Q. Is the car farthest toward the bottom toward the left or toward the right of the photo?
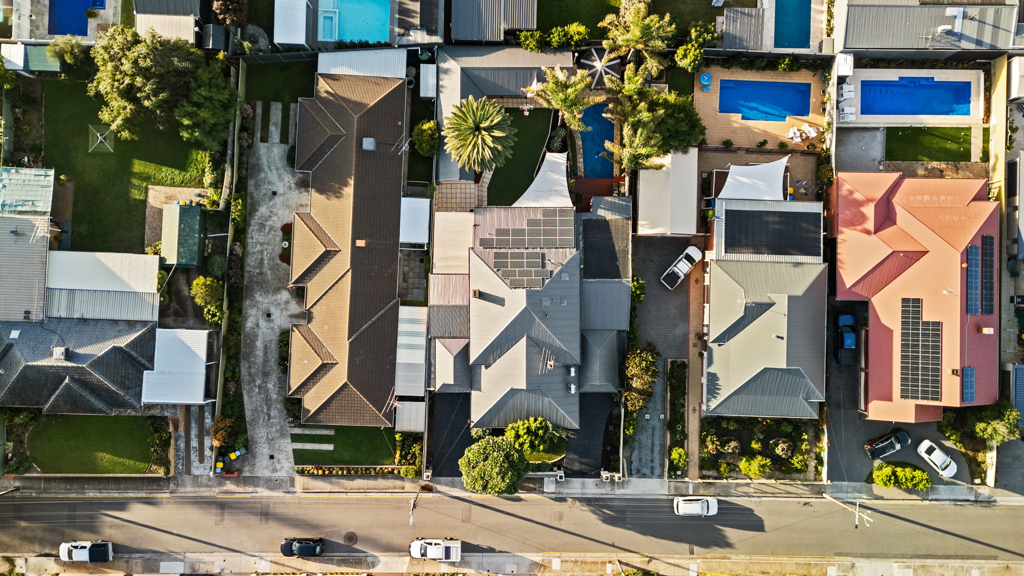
left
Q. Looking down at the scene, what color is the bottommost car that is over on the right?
white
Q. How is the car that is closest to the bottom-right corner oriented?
diagonally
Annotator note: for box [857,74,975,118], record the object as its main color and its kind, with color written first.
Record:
blue swimming pool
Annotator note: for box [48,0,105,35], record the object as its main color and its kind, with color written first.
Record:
blue swimming pool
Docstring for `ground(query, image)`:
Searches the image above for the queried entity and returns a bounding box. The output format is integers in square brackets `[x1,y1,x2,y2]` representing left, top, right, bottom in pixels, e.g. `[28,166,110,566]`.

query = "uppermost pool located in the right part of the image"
[771,0,814,52]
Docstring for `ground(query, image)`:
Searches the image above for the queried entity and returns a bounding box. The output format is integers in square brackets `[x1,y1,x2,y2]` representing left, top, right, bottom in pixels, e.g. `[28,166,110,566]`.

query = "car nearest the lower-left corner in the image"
[282,536,325,559]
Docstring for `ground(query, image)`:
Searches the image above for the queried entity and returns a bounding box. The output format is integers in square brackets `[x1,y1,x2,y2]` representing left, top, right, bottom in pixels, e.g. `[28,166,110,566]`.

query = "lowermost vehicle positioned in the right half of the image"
[672,495,715,518]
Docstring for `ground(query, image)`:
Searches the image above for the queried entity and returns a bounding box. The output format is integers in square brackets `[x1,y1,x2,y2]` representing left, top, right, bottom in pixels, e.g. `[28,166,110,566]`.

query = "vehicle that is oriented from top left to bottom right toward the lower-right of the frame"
[915,437,957,479]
